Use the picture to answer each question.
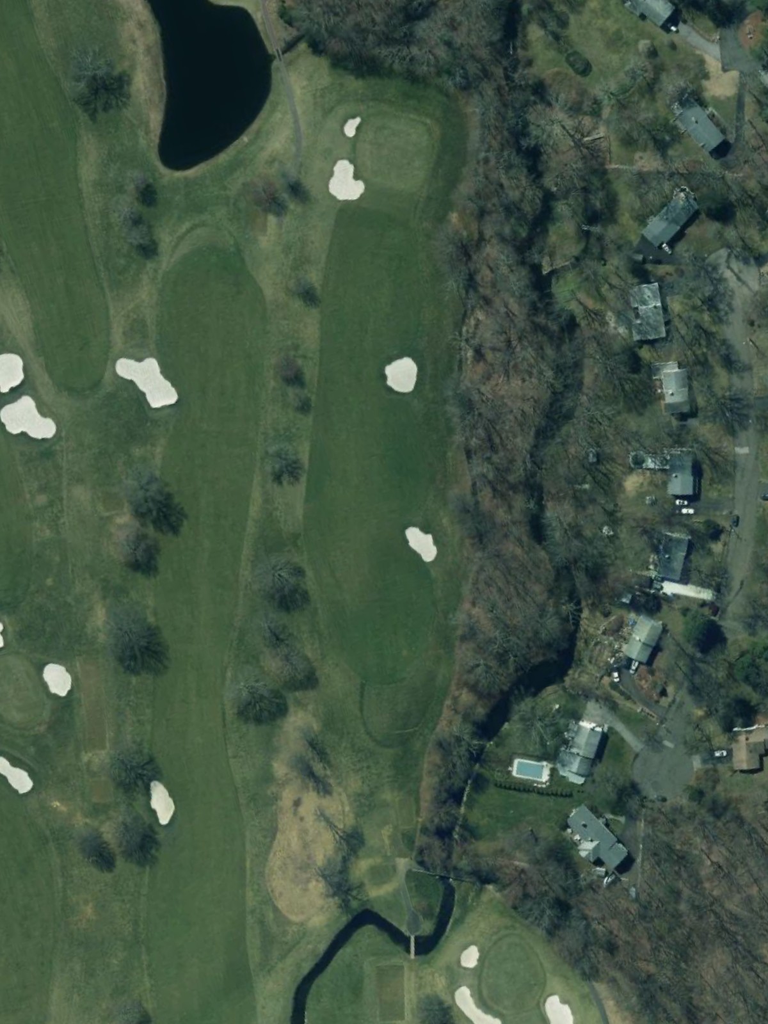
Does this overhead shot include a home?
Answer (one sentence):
Yes, I can see a home in this picture.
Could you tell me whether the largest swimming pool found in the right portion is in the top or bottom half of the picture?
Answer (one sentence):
You can find the largest swimming pool found in the right portion in the bottom half.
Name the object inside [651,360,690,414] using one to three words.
house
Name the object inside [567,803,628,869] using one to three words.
house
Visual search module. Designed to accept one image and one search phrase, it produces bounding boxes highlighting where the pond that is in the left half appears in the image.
[151,0,276,170]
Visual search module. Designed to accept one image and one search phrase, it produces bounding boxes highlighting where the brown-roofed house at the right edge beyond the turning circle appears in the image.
[732,723,768,770]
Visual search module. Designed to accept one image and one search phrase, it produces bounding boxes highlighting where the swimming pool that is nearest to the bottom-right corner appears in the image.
[513,759,549,782]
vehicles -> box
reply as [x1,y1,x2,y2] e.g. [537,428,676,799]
[681,508,693,514]
[676,500,687,505]
[630,660,639,673]
[668,24,678,33]
[662,243,672,254]
[732,514,739,526]
[613,671,619,682]
[630,886,635,896]
[761,494,768,499]
[710,603,719,615]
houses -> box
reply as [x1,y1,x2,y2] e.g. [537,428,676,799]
[557,720,604,785]
[656,531,690,580]
[643,195,700,248]
[732,723,768,770]
[625,0,675,27]
[665,449,694,495]
[624,614,664,663]
[630,284,665,340]
[651,360,690,414]
[567,803,628,869]
[678,92,725,152]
